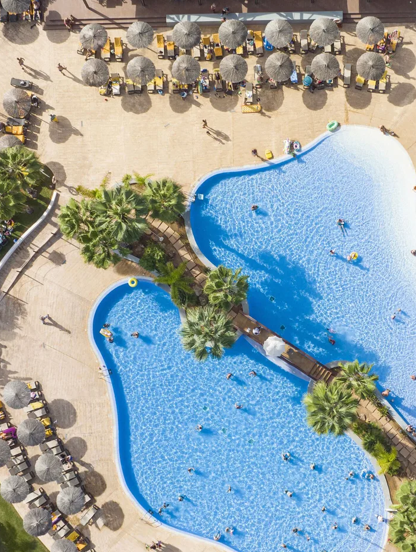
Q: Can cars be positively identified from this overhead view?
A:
No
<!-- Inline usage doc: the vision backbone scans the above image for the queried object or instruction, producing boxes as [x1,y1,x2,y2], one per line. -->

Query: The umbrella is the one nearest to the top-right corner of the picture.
[355,18,384,48]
